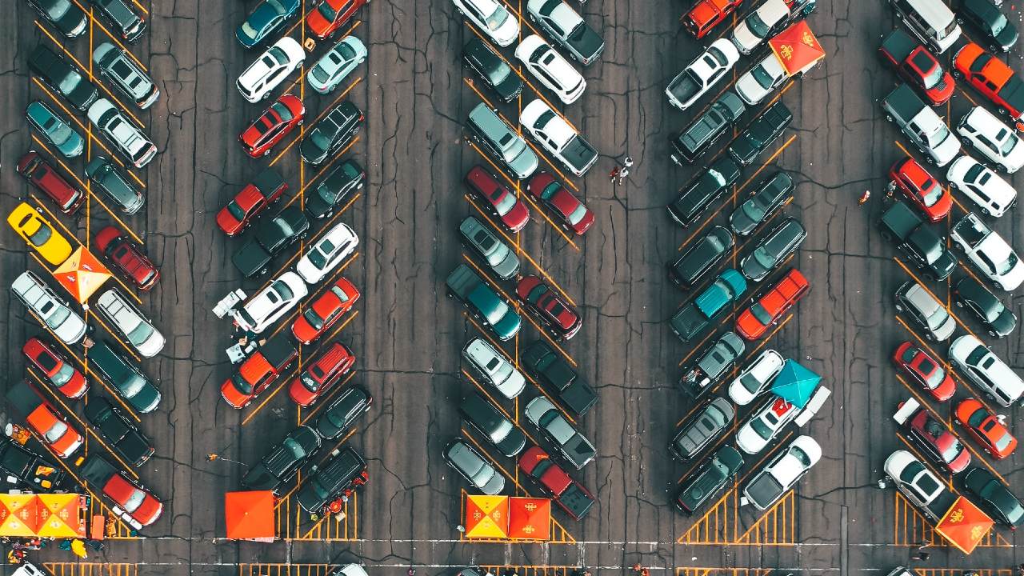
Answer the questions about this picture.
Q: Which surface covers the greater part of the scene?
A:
paved ground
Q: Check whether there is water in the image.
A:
No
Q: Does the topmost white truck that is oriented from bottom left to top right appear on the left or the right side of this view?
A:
right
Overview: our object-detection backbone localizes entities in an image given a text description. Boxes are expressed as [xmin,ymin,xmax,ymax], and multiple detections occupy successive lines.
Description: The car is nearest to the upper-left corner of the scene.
[30,0,89,40]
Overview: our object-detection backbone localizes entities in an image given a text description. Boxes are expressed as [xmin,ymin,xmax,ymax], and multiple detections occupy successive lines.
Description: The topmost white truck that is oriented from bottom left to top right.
[730,0,805,59]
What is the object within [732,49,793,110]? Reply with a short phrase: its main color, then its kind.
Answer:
white truck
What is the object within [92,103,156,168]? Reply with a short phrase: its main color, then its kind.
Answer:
white car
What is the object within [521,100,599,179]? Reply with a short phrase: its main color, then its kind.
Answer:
white truck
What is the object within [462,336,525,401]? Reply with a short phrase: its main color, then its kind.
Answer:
white car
